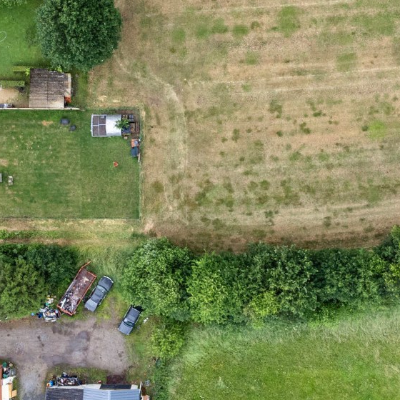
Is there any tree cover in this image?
Yes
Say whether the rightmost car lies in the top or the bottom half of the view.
bottom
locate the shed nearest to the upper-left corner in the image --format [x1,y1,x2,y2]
[29,68,71,107]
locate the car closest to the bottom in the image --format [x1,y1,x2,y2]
[119,303,141,334]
